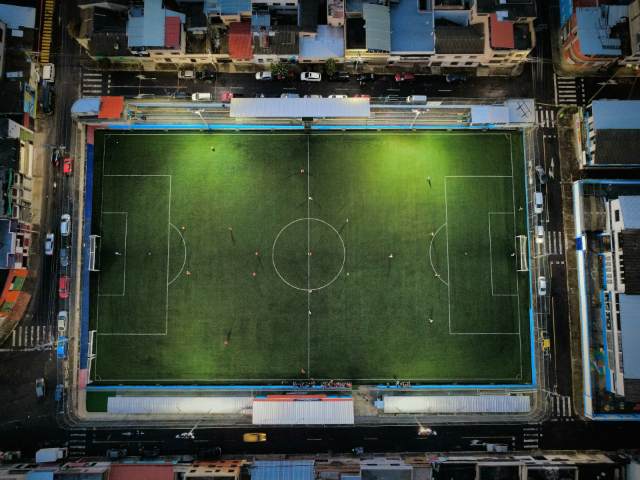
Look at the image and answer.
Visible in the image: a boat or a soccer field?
soccer field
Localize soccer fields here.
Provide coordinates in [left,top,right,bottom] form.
[88,128,531,386]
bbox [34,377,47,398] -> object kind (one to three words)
vehicle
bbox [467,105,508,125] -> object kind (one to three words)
building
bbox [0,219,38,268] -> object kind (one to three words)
house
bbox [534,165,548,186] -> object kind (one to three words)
vehicle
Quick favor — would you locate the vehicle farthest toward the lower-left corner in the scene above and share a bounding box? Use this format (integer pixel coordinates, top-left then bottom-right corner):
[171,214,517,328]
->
[36,446,71,461]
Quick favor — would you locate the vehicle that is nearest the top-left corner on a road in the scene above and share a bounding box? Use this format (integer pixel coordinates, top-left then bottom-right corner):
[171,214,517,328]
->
[42,64,57,117]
